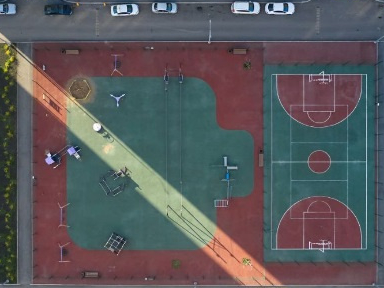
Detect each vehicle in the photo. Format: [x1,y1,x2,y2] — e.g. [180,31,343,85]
[111,3,140,17]
[265,1,295,16]
[0,2,18,16]
[231,1,260,15]
[45,3,73,17]
[152,1,177,14]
